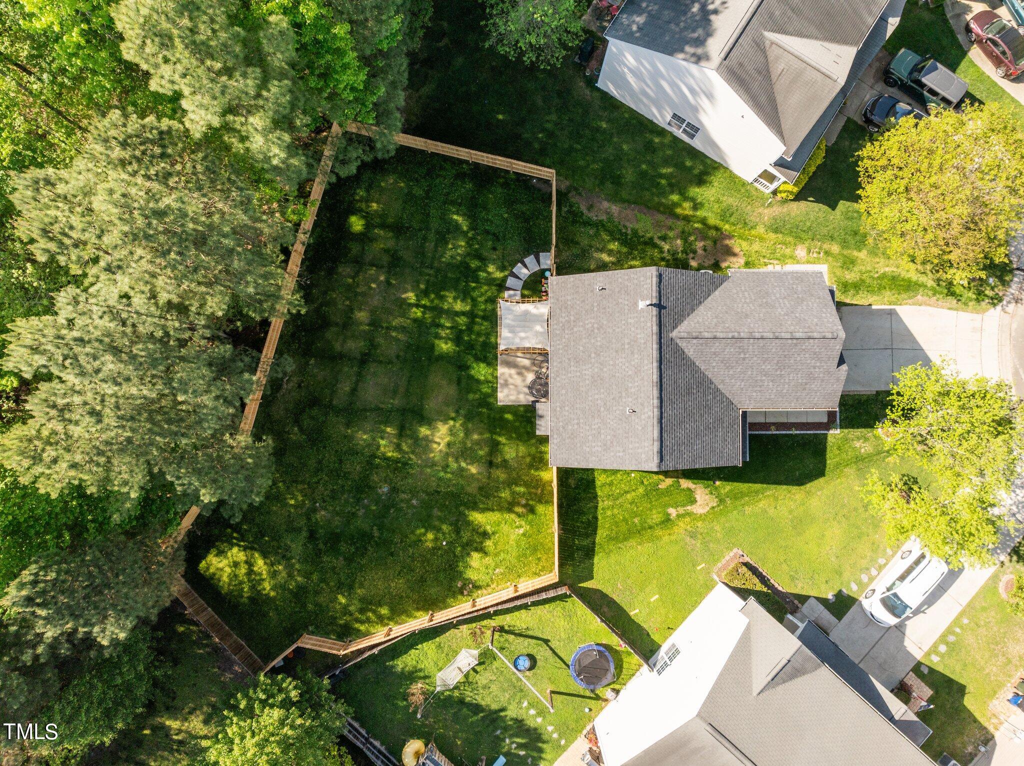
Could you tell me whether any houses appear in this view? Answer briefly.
Yes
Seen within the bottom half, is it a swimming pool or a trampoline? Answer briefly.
trampoline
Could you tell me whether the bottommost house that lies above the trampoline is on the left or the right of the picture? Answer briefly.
right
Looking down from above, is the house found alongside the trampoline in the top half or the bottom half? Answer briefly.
bottom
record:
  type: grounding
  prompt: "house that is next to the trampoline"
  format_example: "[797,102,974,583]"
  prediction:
[596,576,939,766]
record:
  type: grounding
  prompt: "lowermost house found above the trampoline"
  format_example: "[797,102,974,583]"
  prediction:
[536,267,849,471]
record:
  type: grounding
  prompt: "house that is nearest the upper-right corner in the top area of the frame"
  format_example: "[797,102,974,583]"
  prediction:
[595,0,909,195]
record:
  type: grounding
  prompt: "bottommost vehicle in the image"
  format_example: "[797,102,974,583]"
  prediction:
[862,542,947,626]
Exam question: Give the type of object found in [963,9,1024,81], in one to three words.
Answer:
car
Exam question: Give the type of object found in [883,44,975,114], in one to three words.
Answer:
car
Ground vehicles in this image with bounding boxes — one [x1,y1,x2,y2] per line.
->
[963,9,1024,81]
[999,0,1024,35]
[883,44,975,114]
[862,542,947,626]
[863,94,942,144]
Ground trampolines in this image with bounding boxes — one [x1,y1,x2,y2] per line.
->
[569,639,616,693]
